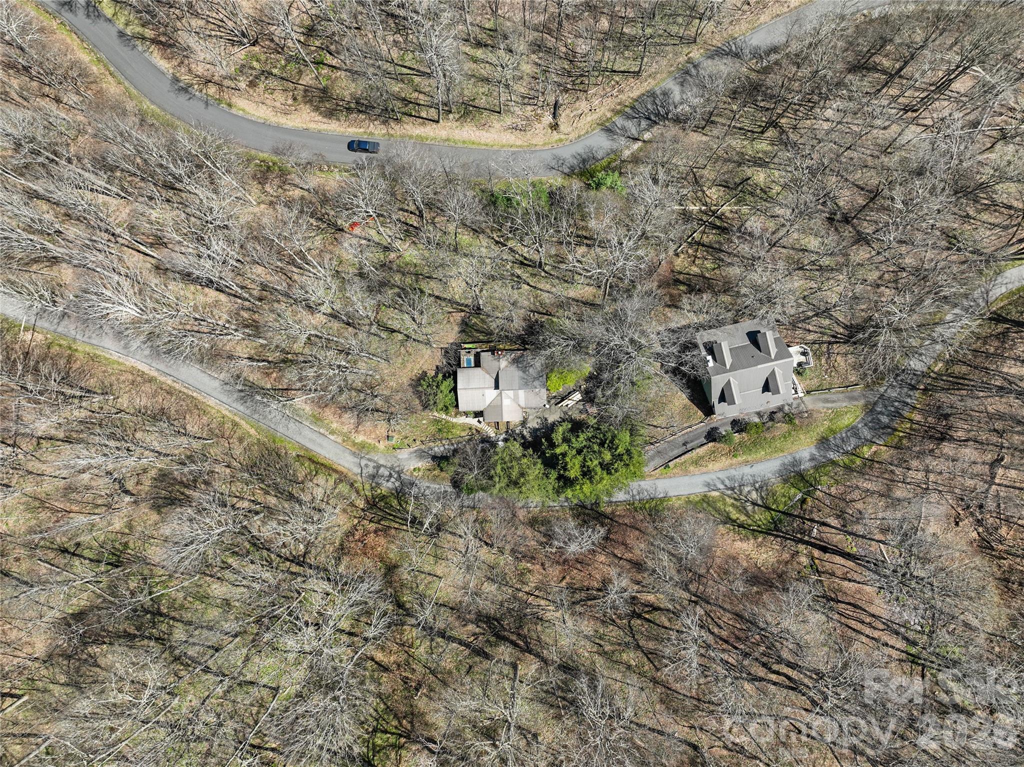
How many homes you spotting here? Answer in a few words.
2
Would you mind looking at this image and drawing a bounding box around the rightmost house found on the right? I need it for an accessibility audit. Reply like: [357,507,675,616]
[693,317,795,420]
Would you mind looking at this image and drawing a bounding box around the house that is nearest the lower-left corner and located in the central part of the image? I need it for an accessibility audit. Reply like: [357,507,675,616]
[457,347,547,422]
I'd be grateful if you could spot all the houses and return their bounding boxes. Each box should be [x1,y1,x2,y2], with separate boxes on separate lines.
[457,347,547,422]
[693,317,795,420]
